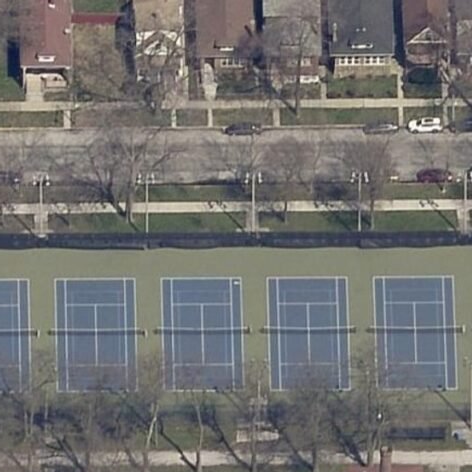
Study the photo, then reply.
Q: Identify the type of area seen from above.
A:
residential area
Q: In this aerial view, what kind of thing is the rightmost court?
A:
tennis court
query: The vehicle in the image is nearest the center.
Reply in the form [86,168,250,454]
[226,122,261,137]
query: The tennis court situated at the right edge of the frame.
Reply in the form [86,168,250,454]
[372,275,458,389]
